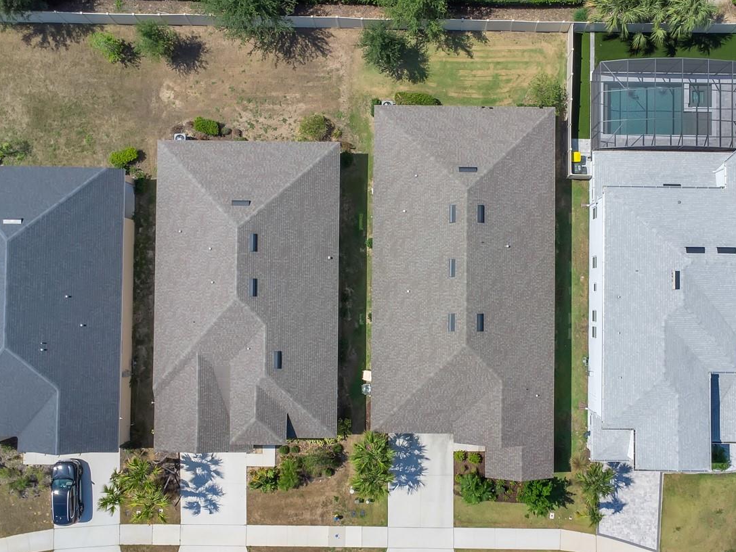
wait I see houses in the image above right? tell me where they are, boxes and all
[584,148,736,473]
[0,167,143,456]
[371,104,556,482]
[153,139,341,453]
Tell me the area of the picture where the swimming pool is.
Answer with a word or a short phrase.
top right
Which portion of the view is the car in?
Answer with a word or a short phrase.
bottom left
